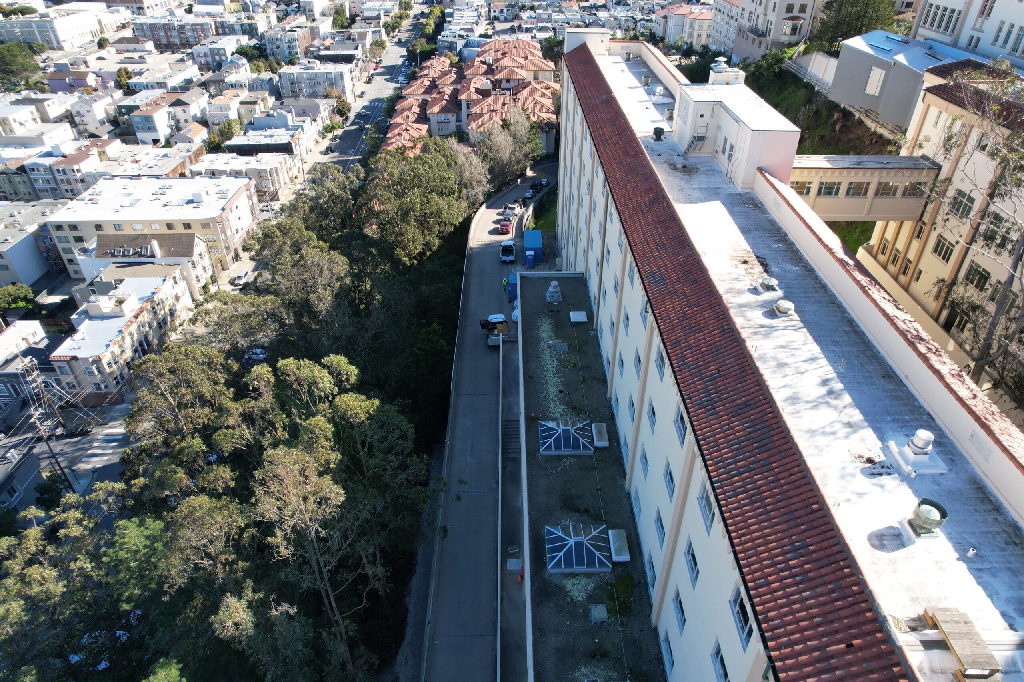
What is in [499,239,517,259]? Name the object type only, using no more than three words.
vehicle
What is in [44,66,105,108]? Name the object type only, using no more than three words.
house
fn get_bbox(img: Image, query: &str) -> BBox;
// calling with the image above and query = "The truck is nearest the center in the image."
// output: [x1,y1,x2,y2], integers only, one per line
[477,313,508,343]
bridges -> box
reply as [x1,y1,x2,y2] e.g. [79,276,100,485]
[789,154,942,223]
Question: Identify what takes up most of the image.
buildings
